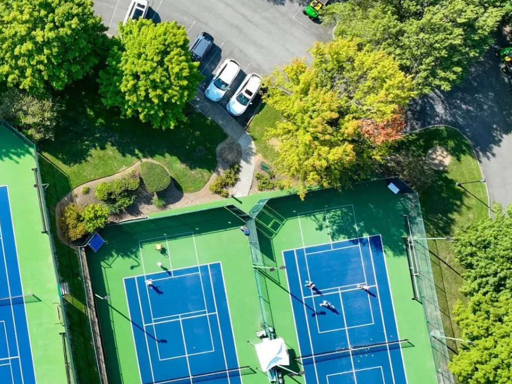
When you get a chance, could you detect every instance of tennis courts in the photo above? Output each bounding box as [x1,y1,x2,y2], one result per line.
[249,177,439,384]
[88,194,276,384]
[0,127,75,384]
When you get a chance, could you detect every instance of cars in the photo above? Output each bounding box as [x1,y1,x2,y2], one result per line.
[227,73,263,116]
[204,59,241,102]
[189,28,220,74]
[115,0,148,39]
